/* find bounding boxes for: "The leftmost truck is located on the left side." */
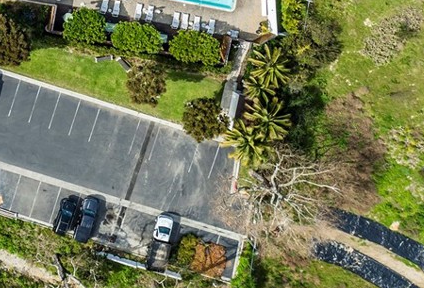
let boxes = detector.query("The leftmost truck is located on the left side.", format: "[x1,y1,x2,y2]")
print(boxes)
[54,195,80,239]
